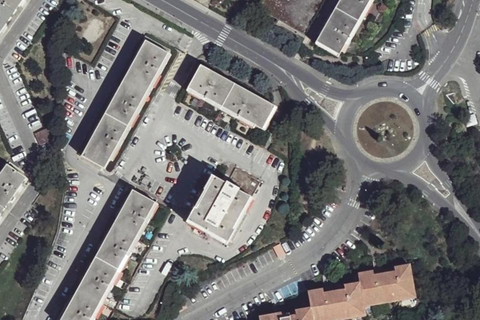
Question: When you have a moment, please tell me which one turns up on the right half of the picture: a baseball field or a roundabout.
roundabout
